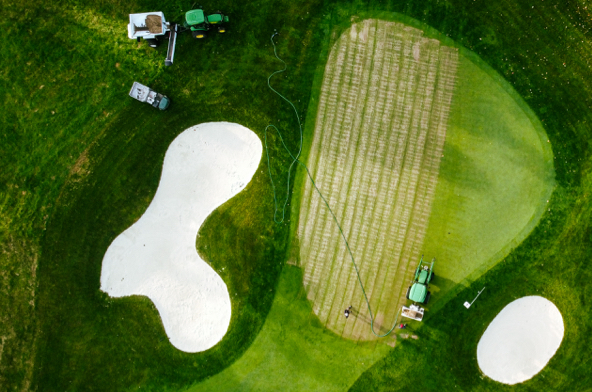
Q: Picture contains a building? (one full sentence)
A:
No, there isn't any building down there.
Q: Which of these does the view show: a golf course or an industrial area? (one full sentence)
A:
This image shows a golf course.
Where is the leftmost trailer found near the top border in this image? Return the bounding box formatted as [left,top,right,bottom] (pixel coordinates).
[128,12,185,68]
